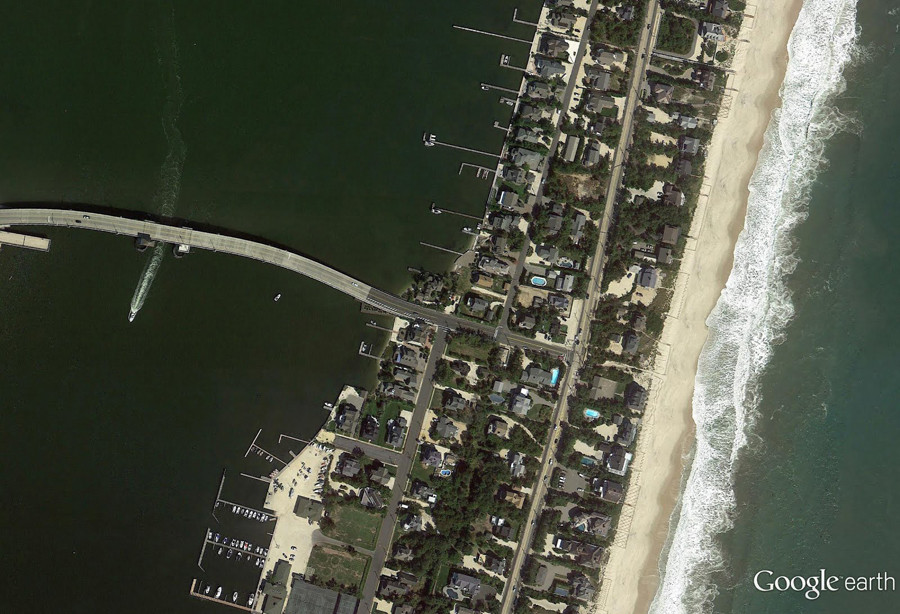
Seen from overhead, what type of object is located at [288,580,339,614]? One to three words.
shed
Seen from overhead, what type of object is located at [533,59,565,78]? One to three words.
house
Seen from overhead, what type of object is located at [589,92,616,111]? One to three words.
house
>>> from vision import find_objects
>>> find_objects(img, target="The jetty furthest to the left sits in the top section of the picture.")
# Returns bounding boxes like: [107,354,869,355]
[0,229,51,251]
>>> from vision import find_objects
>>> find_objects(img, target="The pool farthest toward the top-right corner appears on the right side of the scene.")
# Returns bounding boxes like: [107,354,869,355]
[556,256,573,269]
